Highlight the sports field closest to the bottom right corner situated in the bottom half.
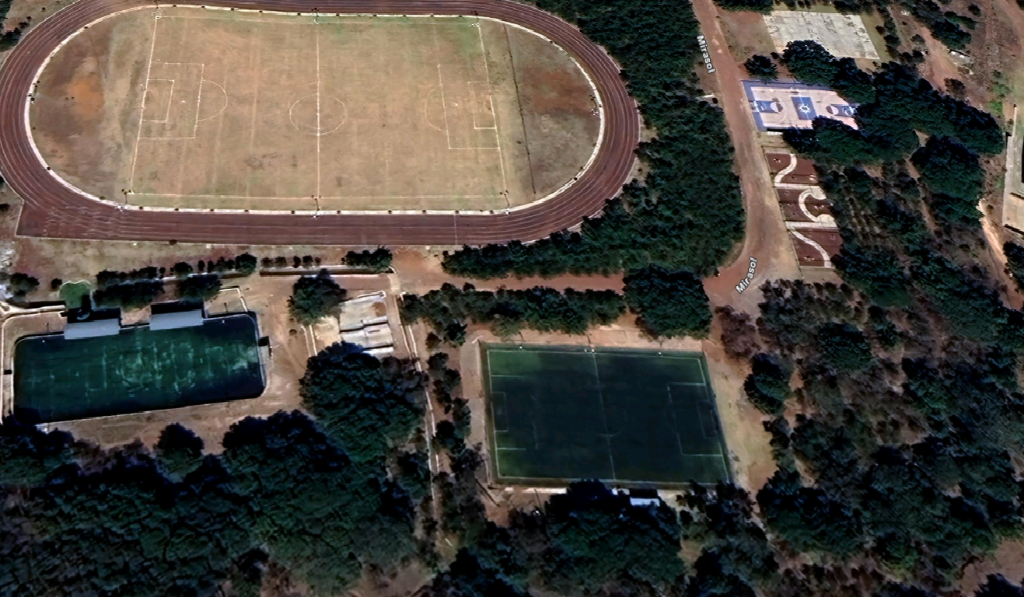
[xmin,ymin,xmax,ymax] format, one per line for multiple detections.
[476,343,735,492]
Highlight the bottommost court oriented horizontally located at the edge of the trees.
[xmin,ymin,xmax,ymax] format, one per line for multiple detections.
[742,80,862,135]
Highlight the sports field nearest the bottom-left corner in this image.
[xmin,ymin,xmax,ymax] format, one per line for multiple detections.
[14,316,265,425]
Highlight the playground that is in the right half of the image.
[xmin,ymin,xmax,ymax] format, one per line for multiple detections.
[763,145,849,268]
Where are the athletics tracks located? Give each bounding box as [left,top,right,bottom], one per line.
[0,0,642,248]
